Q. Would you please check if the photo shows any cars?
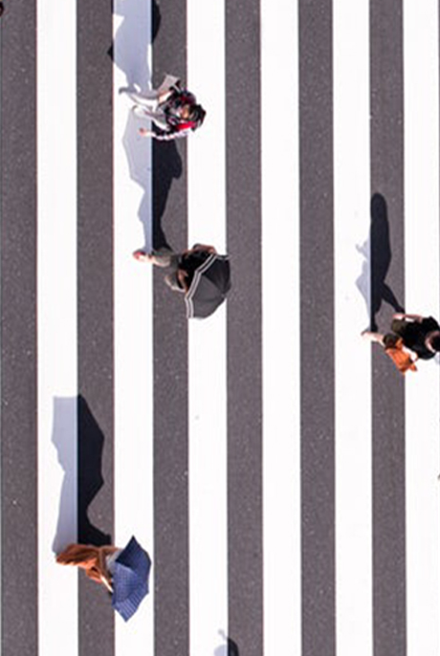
No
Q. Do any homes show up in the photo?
No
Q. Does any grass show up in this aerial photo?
No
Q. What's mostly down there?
paved ground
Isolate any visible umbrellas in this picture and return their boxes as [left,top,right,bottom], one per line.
[81,536,156,621]
[190,249,236,324]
